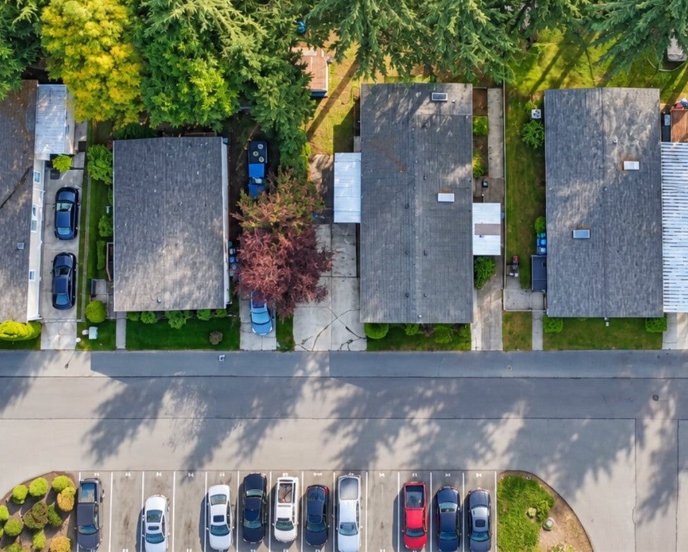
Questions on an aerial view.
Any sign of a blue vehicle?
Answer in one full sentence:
Yes, a blue vehicle appears in the view.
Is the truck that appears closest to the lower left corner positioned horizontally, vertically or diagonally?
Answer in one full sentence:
From this overhead view, the truck that appears closest to the lower left corner appears to run vertically.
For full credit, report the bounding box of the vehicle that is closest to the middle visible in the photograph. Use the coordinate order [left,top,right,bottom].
[248,292,274,340]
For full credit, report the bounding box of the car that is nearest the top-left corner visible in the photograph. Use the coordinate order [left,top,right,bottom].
[52,187,83,240]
